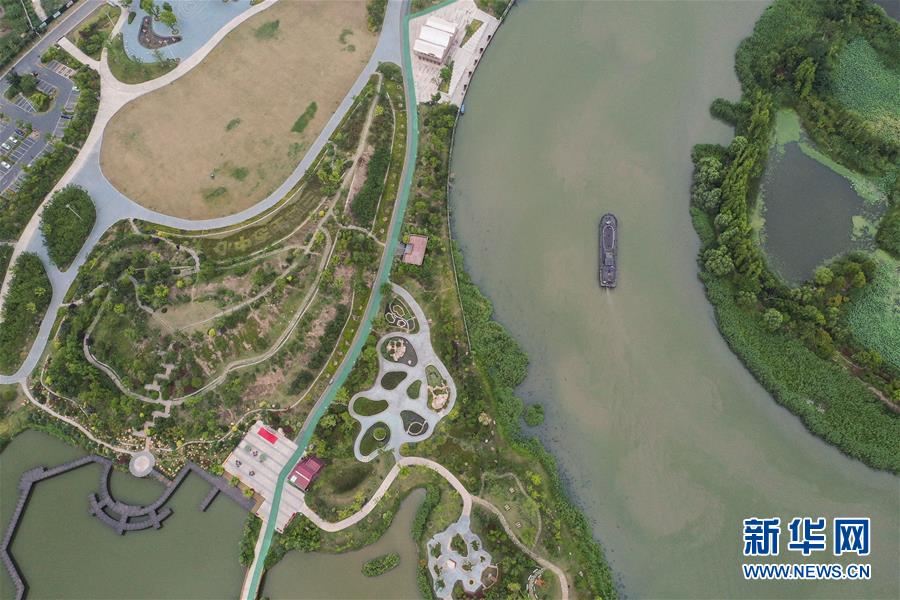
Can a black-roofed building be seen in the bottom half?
No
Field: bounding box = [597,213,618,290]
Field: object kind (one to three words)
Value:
ship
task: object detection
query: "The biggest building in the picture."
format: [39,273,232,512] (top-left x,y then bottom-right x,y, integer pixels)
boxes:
[412,17,458,64]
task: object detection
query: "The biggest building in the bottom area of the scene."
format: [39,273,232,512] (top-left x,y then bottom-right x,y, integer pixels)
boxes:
[288,453,327,493]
